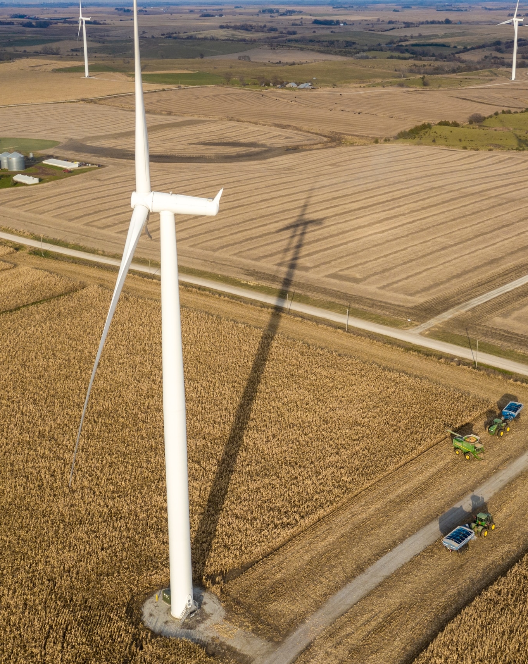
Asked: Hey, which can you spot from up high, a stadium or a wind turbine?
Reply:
wind turbine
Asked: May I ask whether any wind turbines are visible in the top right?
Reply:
Yes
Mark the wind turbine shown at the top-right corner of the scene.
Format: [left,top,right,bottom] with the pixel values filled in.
[500,0,525,81]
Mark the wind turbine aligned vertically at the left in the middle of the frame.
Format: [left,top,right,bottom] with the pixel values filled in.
[65,0,217,634]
